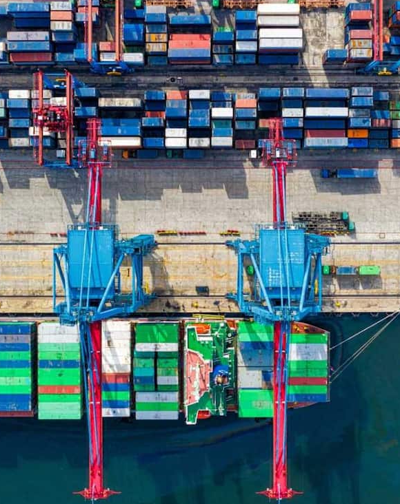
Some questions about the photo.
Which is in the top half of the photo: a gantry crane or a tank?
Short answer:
gantry crane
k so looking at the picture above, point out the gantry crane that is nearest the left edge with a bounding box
[35,71,88,171]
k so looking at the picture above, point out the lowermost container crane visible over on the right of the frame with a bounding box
[219,118,326,501]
